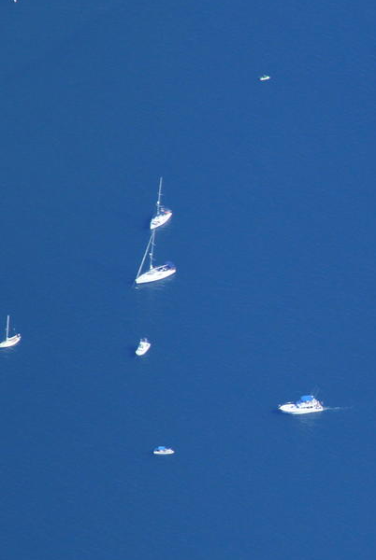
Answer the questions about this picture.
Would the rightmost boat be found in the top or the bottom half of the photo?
bottom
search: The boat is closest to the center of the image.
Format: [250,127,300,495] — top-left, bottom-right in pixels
[136,230,176,283]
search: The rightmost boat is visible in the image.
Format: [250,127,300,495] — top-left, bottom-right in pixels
[278,391,326,414]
